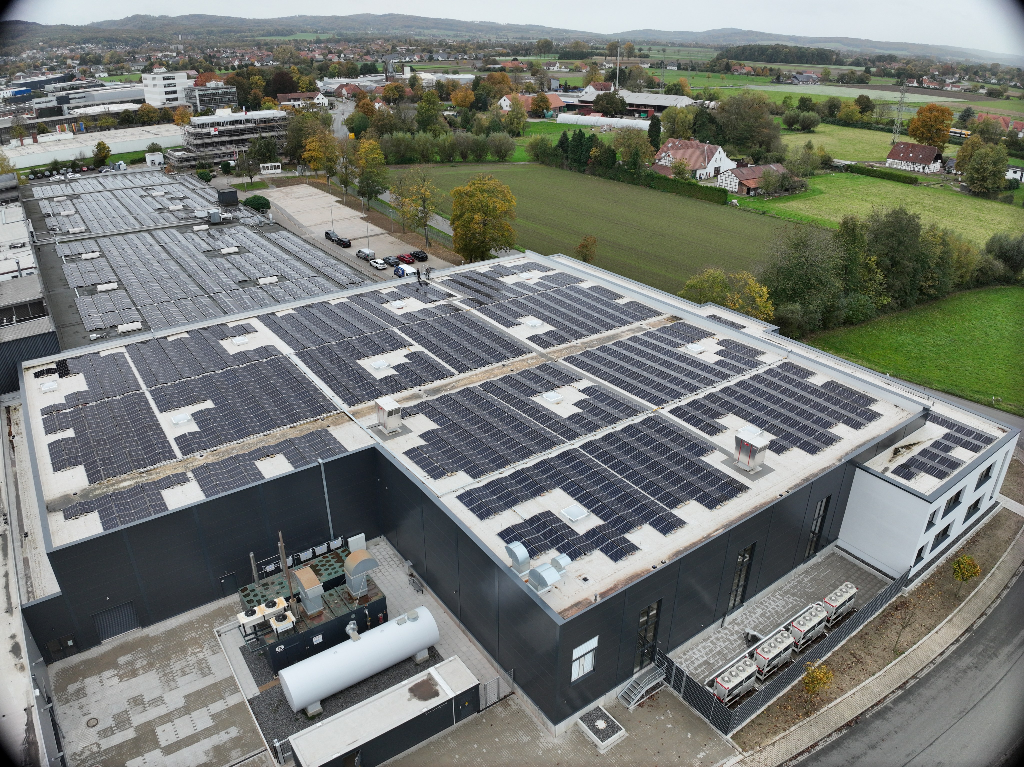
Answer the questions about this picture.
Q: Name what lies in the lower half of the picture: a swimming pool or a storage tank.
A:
storage tank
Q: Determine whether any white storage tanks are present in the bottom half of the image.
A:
Yes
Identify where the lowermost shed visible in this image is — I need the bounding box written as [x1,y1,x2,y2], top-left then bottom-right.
[288,655,483,767]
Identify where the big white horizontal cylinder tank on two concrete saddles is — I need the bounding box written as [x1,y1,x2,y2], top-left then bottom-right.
[273,593,442,708]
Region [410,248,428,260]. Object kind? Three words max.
vehicle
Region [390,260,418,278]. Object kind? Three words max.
vehicle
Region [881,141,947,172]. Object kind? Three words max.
house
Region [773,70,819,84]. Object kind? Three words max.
house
